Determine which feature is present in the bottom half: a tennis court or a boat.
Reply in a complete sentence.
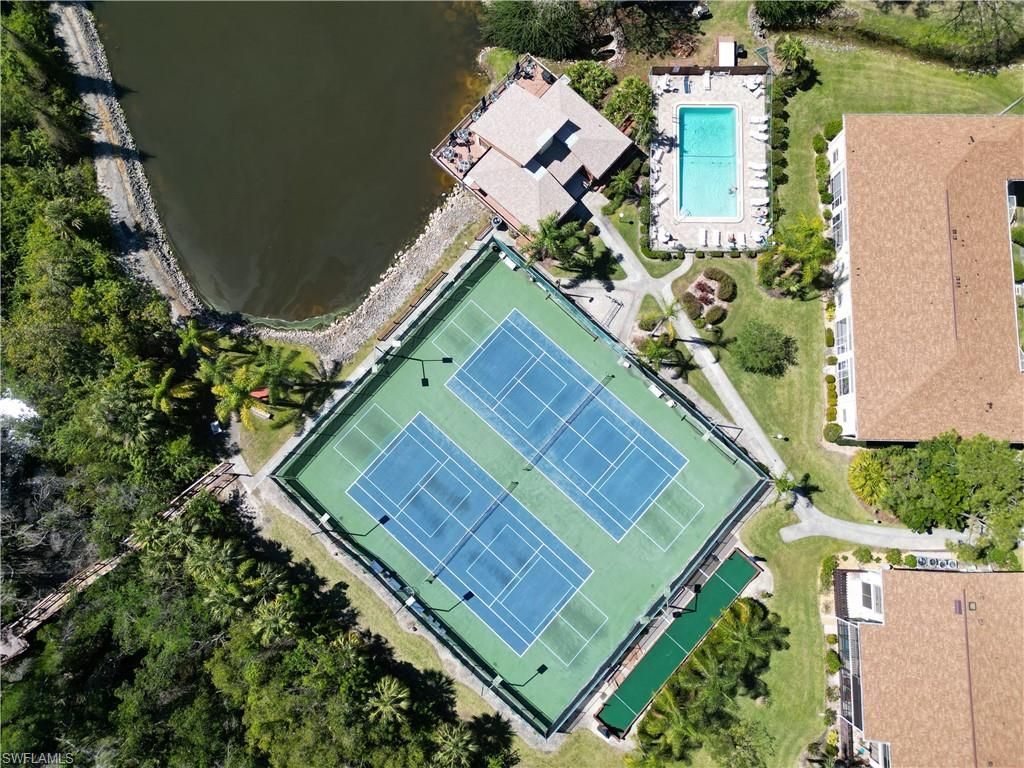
The feature located in the bottom half is a tennis court.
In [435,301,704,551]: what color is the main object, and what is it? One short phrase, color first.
blue tennis court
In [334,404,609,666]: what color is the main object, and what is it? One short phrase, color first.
blue tennis court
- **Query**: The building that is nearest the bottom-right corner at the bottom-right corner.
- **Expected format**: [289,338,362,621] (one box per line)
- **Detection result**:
[834,567,1024,768]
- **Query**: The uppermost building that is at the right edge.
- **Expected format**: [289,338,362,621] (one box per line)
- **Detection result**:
[831,113,1024,446]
